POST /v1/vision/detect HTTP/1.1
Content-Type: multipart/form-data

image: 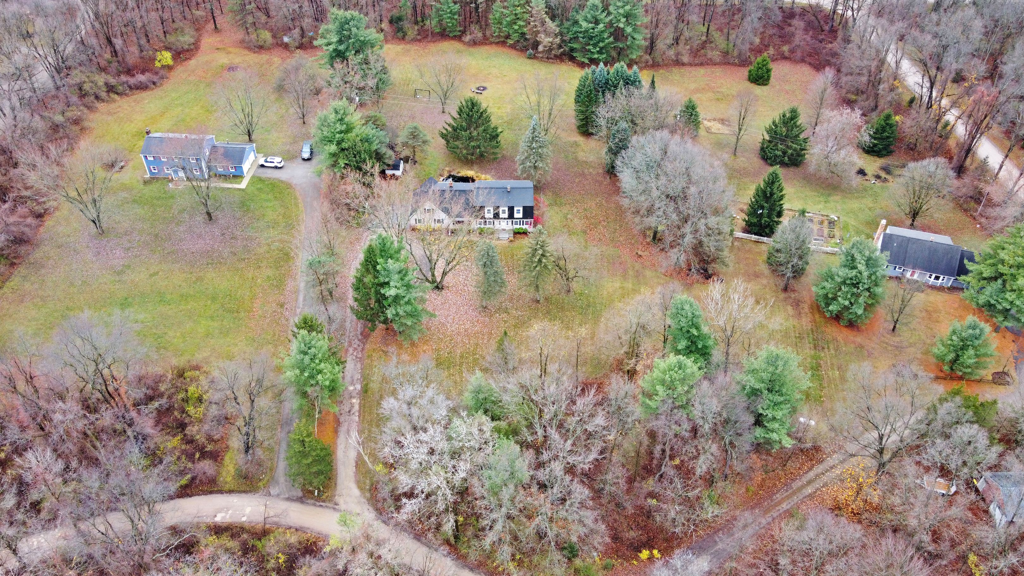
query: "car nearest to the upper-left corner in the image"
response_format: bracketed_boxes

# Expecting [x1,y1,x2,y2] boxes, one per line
[257,156,284,169]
